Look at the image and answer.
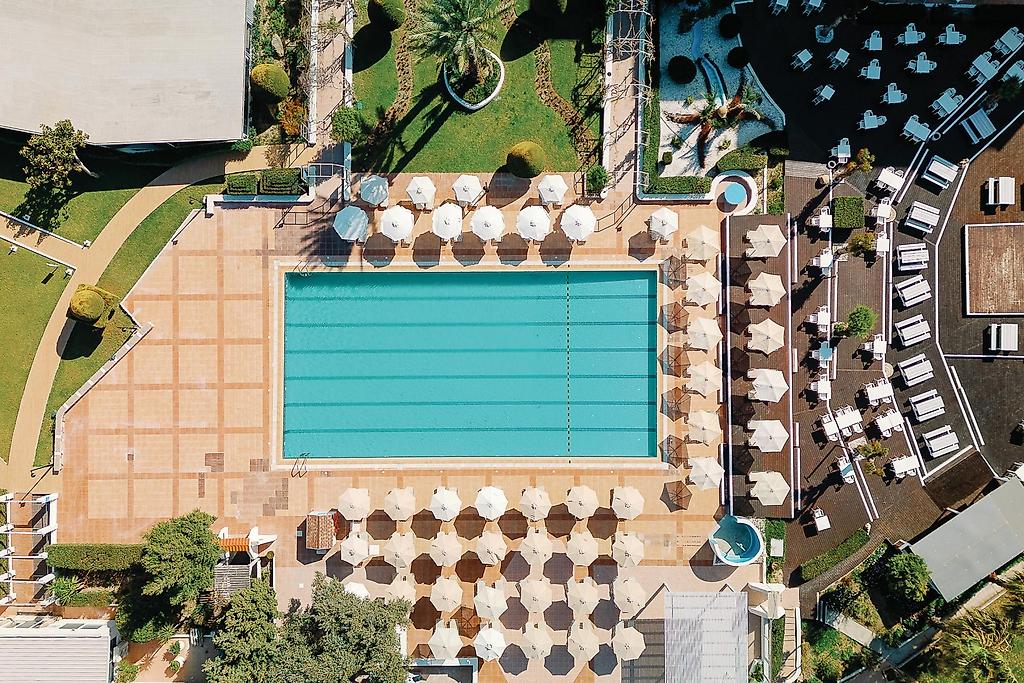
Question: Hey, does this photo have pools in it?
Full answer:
Yes, looking at the shot, I can spot a pool.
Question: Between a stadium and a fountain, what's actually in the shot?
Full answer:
There is a fountain in the scene.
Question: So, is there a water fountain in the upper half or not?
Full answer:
Yes, a water fountain shows up in the upper half.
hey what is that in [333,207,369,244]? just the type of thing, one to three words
umbrella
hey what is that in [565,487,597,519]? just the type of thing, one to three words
umbrella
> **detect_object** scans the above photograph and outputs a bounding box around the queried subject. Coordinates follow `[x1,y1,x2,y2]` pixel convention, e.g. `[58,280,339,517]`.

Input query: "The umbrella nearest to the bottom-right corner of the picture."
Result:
[749,470,788,506]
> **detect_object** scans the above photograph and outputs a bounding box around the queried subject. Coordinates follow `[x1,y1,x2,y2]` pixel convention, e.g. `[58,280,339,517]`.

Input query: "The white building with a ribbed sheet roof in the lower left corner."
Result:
[0,615,124,683]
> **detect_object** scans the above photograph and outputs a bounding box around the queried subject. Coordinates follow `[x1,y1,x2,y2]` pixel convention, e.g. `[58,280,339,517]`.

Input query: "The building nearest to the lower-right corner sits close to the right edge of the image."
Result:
[892,463,1024,603]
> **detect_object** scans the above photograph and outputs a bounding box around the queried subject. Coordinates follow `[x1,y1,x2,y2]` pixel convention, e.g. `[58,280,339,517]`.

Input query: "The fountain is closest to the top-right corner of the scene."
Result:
[713,170,761,215]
